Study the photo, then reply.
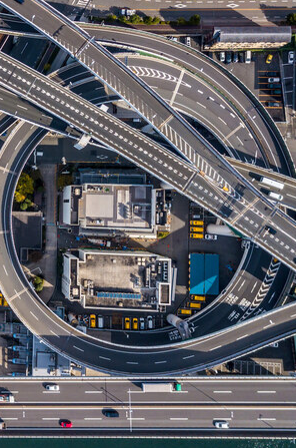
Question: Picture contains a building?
Yes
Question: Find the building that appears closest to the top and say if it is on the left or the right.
right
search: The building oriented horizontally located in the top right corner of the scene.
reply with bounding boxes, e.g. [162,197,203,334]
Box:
[199,25,294,51]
